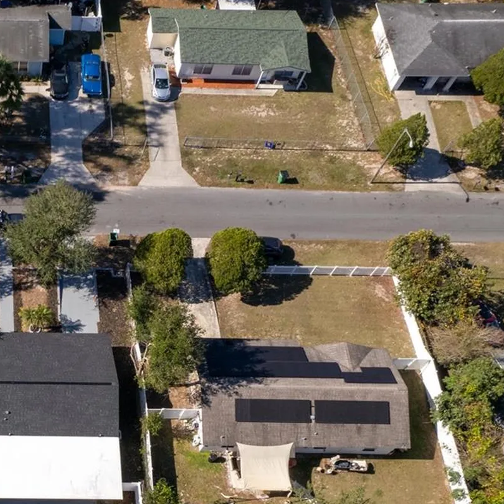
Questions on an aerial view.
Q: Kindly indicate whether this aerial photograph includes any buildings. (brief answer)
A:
Yes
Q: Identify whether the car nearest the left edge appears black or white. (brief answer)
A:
black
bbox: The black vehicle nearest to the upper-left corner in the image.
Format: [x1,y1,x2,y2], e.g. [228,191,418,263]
[49,66,71,103]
